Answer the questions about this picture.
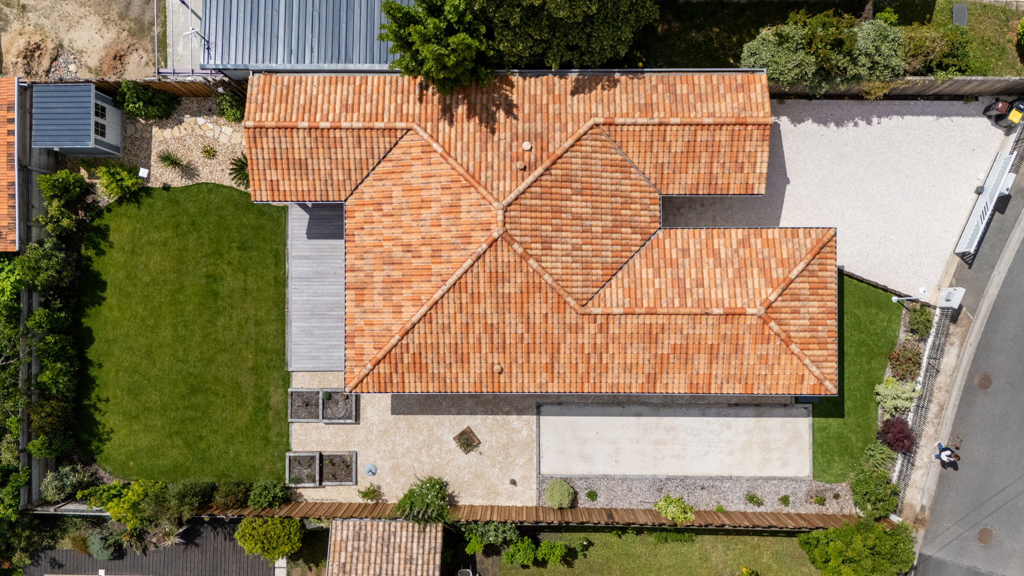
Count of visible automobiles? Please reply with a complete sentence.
No automobiles are visible.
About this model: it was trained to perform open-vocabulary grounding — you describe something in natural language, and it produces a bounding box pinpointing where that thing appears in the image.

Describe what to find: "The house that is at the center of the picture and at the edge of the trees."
[242,65,838,396]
